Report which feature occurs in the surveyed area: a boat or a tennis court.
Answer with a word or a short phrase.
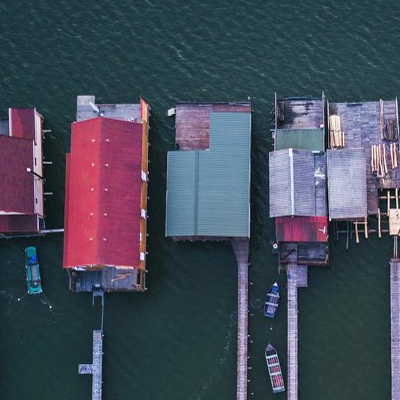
boat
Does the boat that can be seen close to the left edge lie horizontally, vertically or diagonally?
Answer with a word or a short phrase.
vertically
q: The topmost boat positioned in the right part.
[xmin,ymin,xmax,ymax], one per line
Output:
[262,282,279,318]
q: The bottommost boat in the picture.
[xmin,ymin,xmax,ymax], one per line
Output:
[265,343,286,394]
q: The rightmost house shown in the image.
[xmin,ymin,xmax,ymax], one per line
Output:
[327,96,400,250]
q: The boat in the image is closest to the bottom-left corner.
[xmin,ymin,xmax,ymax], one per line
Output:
[20,246,51,306]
